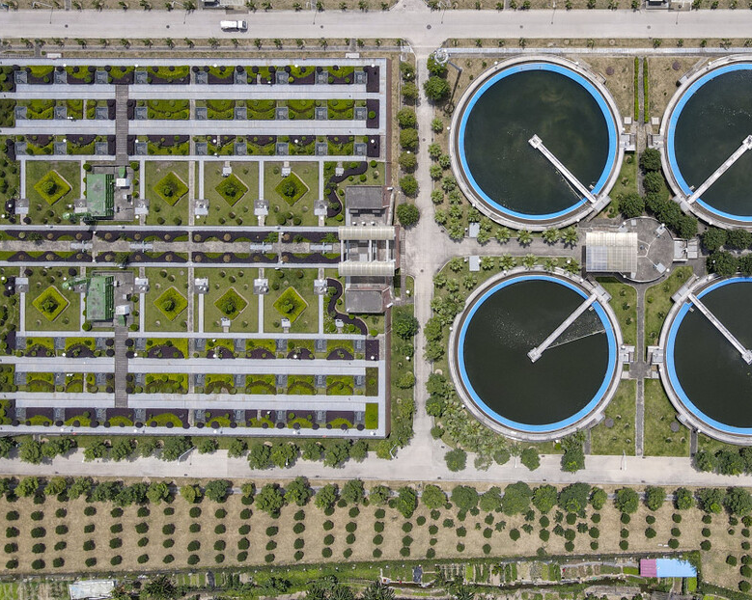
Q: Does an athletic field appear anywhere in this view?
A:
No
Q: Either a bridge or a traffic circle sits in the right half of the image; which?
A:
bridge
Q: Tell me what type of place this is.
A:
industrial area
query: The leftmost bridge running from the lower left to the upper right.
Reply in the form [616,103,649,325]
[531,292,605,360]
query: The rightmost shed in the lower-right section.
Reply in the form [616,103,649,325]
[640,554,697,576]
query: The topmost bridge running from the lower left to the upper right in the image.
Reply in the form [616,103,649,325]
[685,137,752,206]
